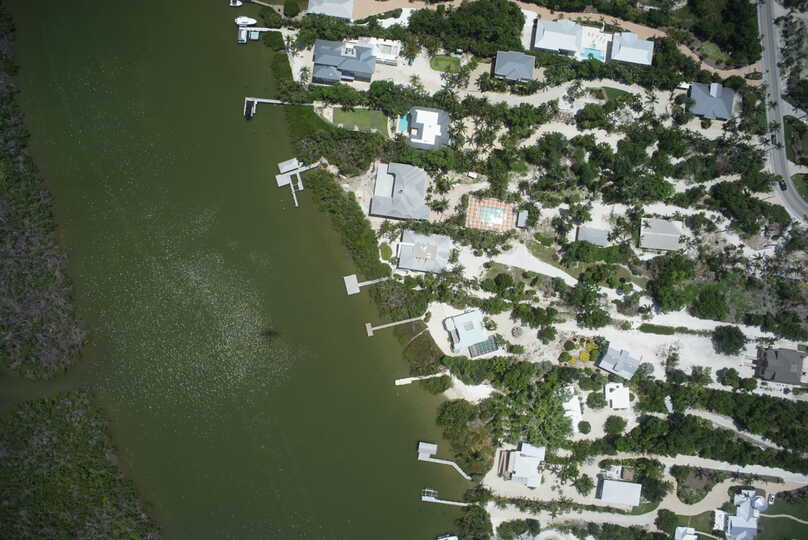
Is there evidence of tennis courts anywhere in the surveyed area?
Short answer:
No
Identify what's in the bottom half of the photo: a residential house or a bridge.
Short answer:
residential house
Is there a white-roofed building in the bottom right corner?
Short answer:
Yes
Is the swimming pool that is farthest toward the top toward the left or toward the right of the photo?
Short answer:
right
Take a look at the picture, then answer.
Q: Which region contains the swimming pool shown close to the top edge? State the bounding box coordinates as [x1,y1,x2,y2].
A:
[582,26,613,62]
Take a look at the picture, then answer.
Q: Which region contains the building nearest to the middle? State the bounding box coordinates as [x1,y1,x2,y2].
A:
[396,230,449,273]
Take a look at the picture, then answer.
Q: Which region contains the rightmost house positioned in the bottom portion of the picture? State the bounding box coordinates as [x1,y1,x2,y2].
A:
[746,348,806,385]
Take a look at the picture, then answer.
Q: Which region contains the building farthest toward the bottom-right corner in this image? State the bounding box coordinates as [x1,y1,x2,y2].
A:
[720,489,768,540]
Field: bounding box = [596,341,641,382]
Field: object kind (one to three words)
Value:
house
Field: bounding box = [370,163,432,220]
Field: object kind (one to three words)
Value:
house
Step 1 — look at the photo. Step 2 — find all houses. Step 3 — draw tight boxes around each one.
[596,341,641,382]
[492,51,543,82]
[312,39,376,86]
[574,227,609,246]
[686,81,733,122]
[370,163,432,220]
[396,230,449,273]
[442,309,491,350]
[496,443,546,487]
[530,17,583,56]
[607,31,655,66]
[404,107,451,152]
[635,218,685,251]
[603,383,633,410]
[720,489,768,540]
[746,348,806,385]
[671,527,698,540]
[562,388,583,433]
[597,465,642,506]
